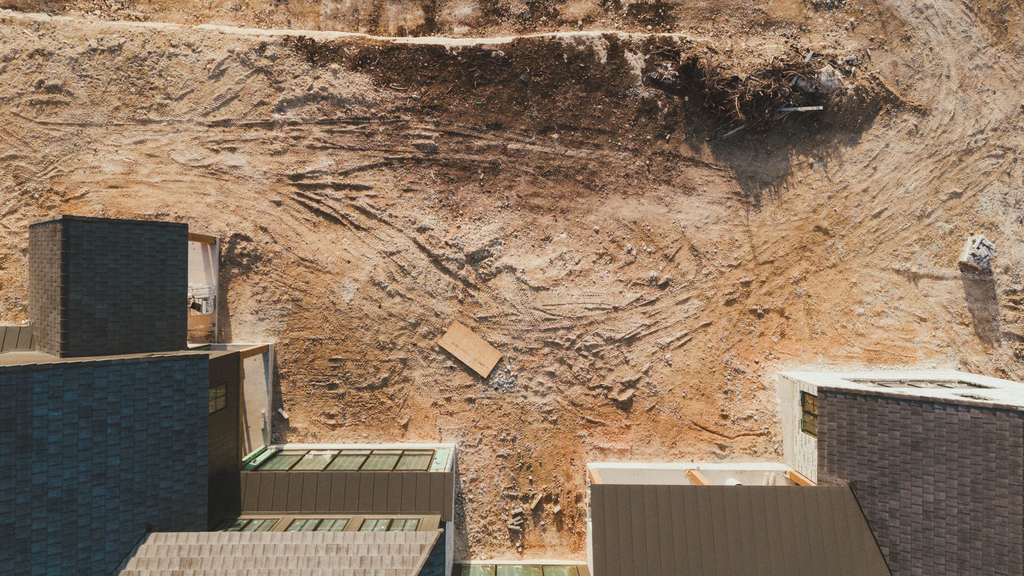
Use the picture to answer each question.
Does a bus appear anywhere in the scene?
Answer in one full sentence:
No, I find no bus anywhere in the image.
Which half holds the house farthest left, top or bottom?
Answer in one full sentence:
You can find the house farthest left in the bottom half.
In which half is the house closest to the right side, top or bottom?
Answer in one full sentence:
The bottom half of the photo is where the house closest to the right side is.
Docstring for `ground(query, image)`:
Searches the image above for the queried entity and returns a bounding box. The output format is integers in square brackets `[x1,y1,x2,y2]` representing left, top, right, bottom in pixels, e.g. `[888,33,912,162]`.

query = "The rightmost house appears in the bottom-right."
[586,372,1024,576]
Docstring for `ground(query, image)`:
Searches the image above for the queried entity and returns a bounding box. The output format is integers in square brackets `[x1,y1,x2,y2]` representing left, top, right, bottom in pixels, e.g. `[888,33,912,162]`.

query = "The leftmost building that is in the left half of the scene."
[0,213,455,576]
